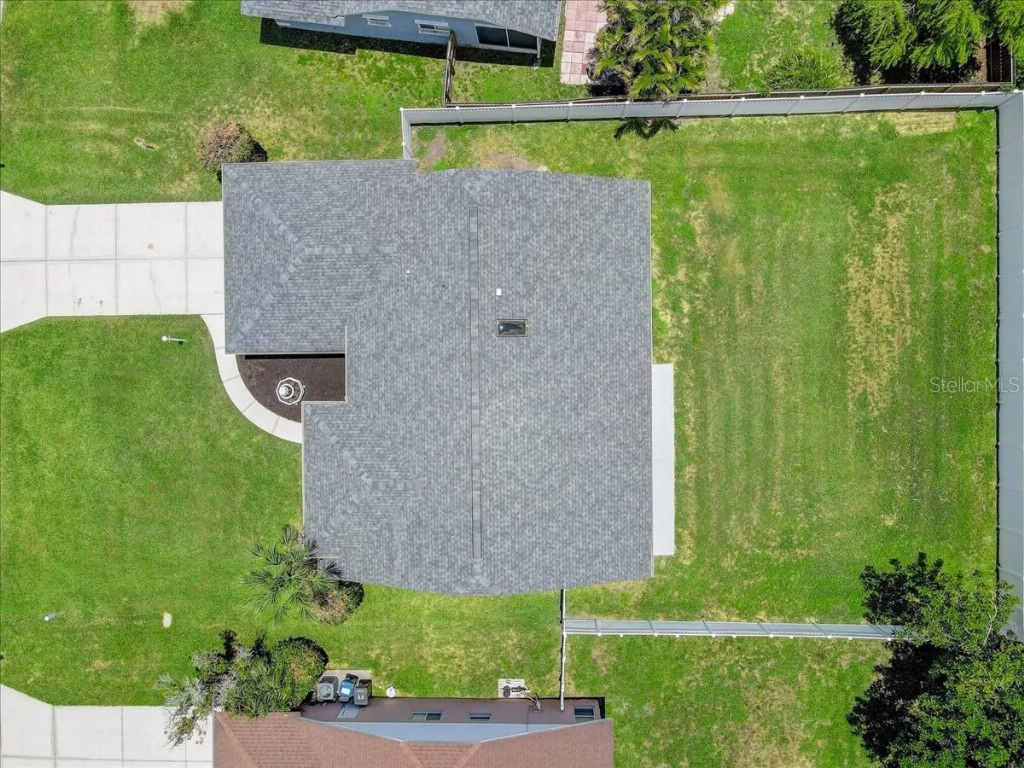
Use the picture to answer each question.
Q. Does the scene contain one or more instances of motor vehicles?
No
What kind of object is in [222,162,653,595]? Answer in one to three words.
house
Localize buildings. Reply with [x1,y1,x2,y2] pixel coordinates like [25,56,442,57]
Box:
[213,693,613,768]
[241,0,562,74]
[222,162,653,595]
